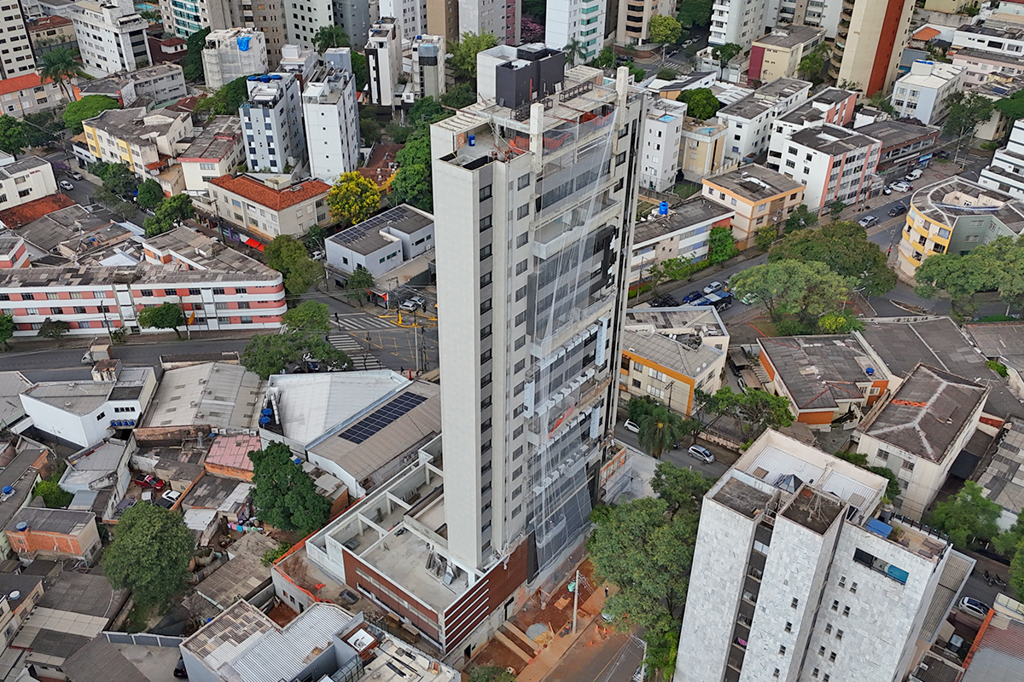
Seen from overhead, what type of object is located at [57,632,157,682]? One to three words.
shed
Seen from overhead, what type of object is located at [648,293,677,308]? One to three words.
vehicle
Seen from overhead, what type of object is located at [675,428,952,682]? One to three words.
building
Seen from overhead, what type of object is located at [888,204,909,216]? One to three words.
vehicle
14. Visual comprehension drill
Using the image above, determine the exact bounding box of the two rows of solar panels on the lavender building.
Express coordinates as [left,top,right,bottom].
[335,202,433,246]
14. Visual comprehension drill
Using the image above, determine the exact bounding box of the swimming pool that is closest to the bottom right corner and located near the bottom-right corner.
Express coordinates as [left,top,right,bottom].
[886,565,910,587]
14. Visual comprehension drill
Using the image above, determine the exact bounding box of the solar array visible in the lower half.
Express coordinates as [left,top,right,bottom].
[336,383,436,446]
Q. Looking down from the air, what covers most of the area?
buildings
